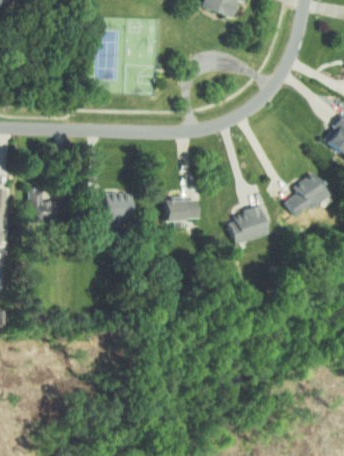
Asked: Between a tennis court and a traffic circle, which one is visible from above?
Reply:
tennis court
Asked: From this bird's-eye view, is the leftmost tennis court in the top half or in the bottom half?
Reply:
top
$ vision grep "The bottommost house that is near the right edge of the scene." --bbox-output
[284,174,331,218]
